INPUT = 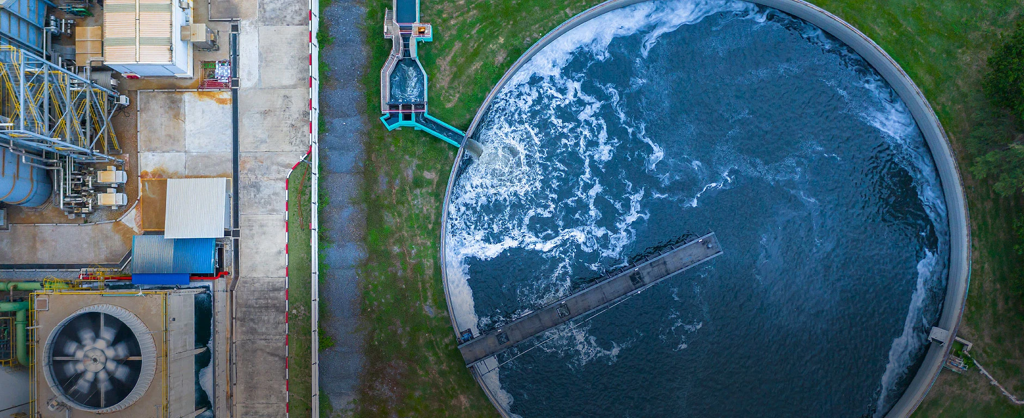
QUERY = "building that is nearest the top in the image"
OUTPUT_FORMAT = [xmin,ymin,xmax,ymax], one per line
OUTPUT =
[104,0,199,79]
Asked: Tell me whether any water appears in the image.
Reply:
Yes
